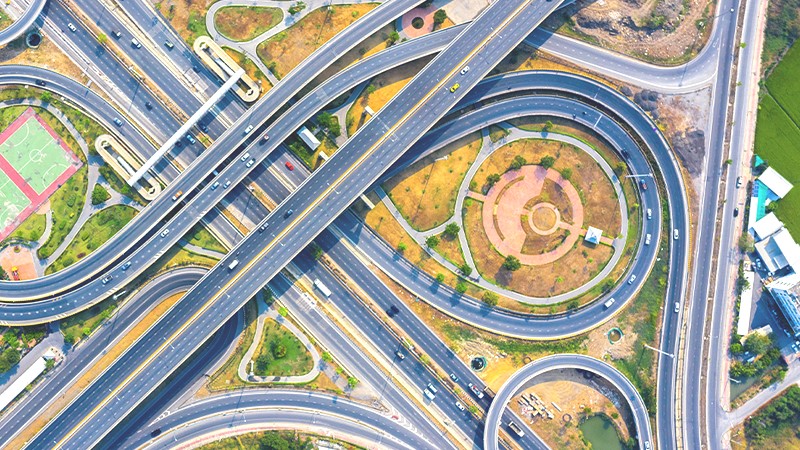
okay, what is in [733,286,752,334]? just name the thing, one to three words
shed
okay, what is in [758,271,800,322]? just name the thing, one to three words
building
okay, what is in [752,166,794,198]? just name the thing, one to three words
building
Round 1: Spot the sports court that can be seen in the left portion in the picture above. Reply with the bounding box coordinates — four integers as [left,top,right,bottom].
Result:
[0,107,84,241]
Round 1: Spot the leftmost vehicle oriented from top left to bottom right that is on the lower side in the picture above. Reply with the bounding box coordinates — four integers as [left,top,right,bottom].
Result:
[314,281,332,298]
